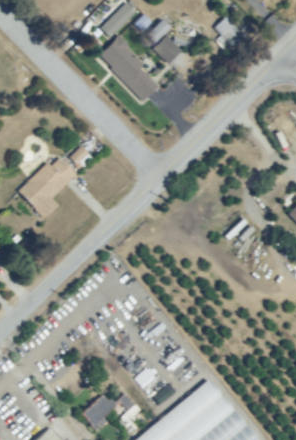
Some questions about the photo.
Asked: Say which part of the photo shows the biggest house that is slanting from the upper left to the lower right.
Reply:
top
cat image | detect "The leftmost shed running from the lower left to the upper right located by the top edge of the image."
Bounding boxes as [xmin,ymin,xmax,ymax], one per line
[102,2,136,35]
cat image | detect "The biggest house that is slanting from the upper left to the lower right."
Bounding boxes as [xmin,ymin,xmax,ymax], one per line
[101,38,160,100]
